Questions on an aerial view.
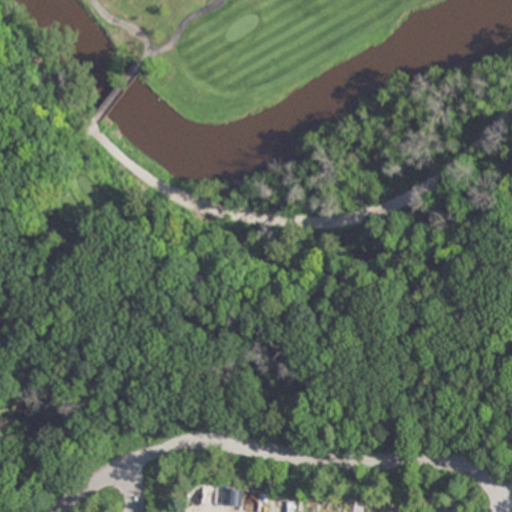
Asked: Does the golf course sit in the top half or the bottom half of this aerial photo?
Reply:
top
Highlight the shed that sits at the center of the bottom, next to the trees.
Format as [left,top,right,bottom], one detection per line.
[216,486,242,508]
